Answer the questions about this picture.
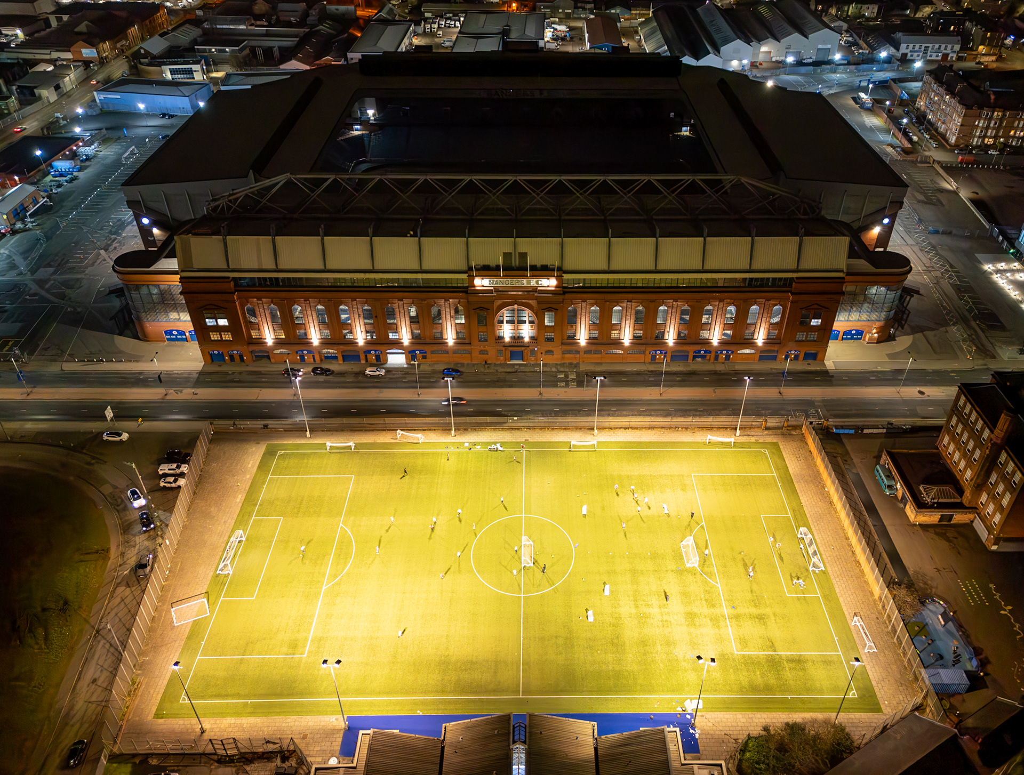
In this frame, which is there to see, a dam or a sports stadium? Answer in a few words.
sports stadium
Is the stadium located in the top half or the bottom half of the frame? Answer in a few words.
top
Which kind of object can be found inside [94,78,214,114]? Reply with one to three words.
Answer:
building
